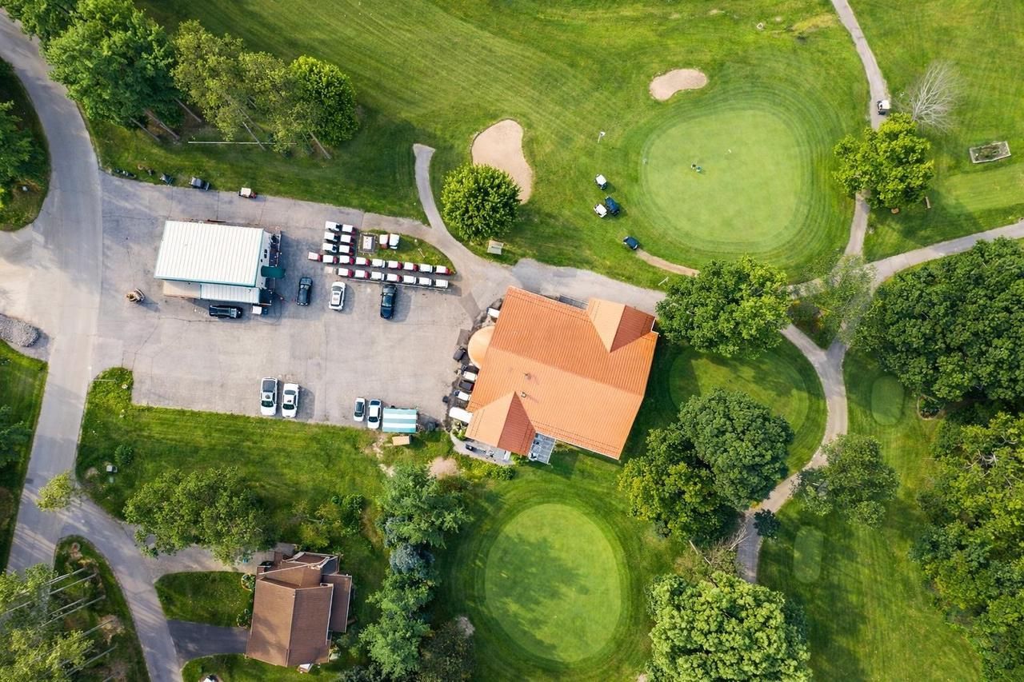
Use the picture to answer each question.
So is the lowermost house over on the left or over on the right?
left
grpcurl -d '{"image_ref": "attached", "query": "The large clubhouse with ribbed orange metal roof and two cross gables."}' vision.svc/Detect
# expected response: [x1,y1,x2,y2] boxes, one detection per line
[466,285,658,464]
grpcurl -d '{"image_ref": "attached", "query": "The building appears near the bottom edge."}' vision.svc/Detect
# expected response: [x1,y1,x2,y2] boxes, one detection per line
[245,546,354,667]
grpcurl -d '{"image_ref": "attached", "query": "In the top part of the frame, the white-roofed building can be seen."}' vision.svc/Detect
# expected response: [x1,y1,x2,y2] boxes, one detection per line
[154,221,290,306]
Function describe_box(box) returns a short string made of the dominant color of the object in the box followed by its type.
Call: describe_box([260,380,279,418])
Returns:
white vehicle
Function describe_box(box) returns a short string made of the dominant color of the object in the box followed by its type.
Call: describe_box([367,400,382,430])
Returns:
white car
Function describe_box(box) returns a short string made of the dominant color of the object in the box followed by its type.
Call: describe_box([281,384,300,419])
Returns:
white car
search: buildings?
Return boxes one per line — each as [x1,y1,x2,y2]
[245,546,354,667]
[154,221,290,306]
[466,285,658,464]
